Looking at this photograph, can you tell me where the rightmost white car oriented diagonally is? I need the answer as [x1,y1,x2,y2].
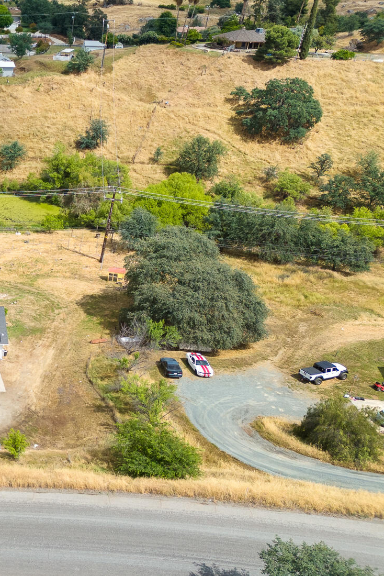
[182,350,218,379]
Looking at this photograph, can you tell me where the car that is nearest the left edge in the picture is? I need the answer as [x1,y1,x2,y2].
[158,356,186,381]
